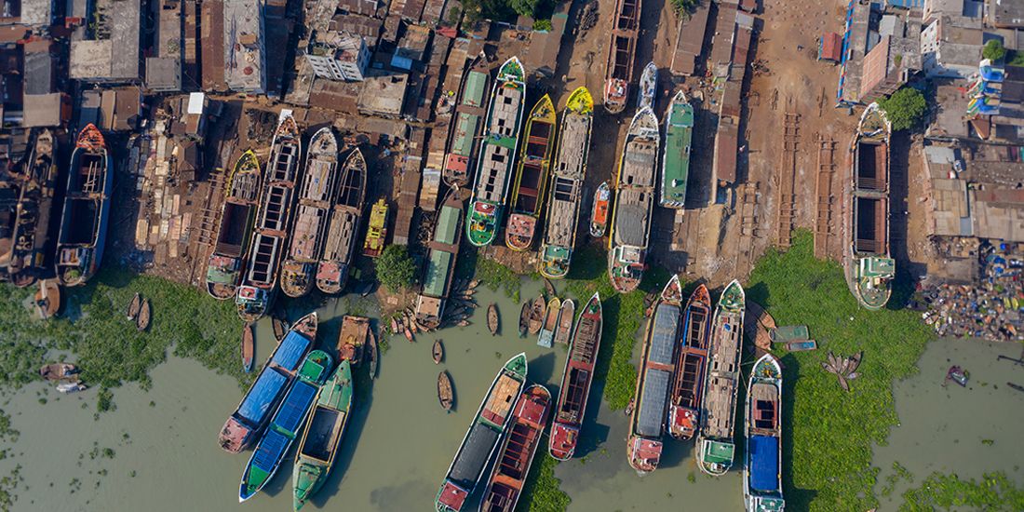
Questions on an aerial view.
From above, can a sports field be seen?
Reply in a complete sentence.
No, I can see no sports field in this picture.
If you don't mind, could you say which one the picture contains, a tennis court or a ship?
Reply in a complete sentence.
It is a ship that can be seen here.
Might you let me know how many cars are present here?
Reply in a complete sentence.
The count of cars is 0.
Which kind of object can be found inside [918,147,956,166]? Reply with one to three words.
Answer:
shed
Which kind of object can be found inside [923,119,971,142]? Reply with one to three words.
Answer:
shed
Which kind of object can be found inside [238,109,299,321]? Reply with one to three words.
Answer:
ship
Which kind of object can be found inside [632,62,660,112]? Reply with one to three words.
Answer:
boat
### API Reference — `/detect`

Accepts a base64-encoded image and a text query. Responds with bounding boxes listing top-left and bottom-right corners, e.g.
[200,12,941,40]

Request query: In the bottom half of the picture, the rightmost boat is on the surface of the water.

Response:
[950,369,965,384]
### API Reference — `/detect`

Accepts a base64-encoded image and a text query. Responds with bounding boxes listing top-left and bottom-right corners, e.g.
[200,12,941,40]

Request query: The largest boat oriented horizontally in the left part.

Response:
[39,362,79,377]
